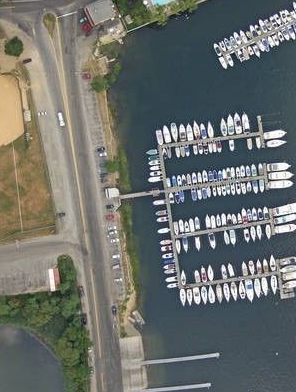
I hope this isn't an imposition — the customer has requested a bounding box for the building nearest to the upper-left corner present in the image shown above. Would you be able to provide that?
[82,0,115,27]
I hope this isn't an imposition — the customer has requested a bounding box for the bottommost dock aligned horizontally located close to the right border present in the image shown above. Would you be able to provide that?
[181,259,296,299]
